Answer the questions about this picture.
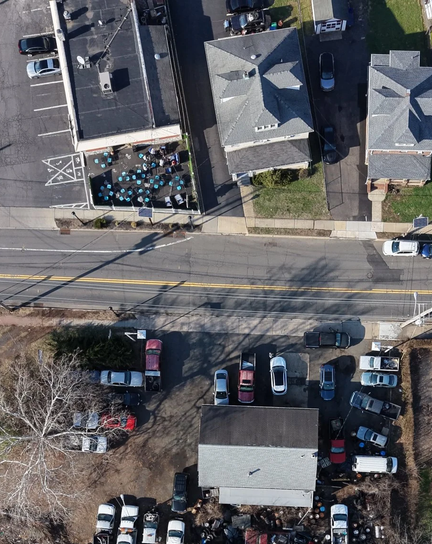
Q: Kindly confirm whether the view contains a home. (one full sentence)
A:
Yes, the image includes a home.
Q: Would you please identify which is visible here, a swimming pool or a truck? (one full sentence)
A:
The one in the frame is a truck.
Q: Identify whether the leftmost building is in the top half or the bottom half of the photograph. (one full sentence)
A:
The leftmost building is in the top half of the image.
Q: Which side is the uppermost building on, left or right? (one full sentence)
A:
The uppermost building appears in the right half of the scene.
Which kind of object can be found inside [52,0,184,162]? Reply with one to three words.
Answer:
building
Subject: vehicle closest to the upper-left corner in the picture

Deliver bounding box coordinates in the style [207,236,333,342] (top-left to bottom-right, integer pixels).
[17,34,60,58]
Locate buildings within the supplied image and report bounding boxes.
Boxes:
[52,0,184,162]
[198,405,318,508]
[365,50,432,191]
[310,0,345,41]
[204,27,314,186]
